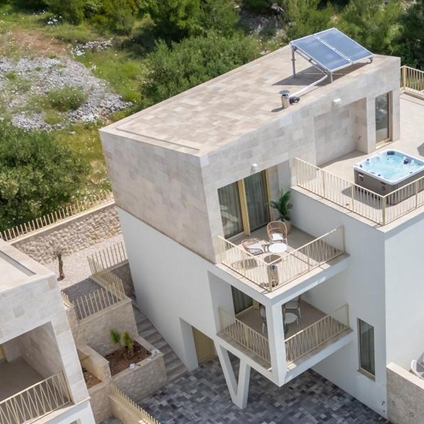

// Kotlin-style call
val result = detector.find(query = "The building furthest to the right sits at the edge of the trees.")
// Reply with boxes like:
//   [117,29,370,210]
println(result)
[100,47,424,419]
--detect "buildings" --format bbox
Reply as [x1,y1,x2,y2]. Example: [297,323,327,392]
[100,47,424,419]
[0,238,97,424]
